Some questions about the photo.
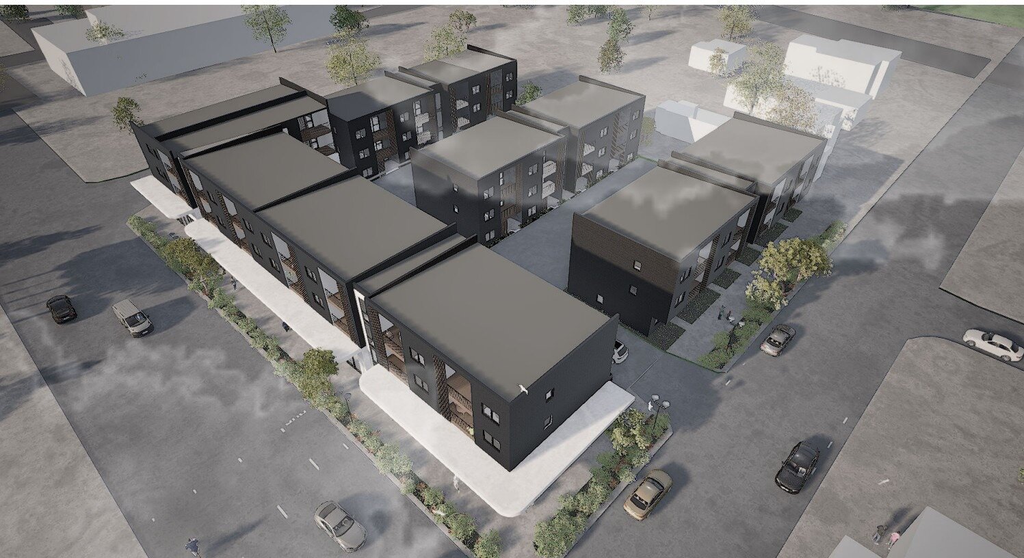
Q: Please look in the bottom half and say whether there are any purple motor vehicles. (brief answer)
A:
No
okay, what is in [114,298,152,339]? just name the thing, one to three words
van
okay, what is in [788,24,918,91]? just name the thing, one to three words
building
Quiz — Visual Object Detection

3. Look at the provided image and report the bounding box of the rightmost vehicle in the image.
[965,334,1024,367]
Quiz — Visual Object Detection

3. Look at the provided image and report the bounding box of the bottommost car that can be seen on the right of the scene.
[624,472,670,522]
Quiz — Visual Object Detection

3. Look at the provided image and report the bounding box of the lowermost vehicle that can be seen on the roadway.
[316,502,365,557]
